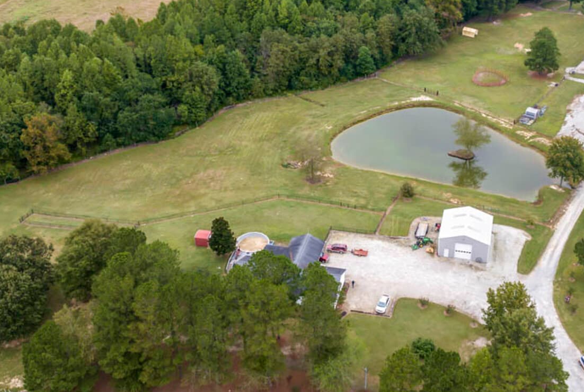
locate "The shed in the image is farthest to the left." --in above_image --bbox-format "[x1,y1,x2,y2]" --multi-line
[193,228,215,246]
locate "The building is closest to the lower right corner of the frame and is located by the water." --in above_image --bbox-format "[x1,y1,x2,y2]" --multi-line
[438,200,496,266]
